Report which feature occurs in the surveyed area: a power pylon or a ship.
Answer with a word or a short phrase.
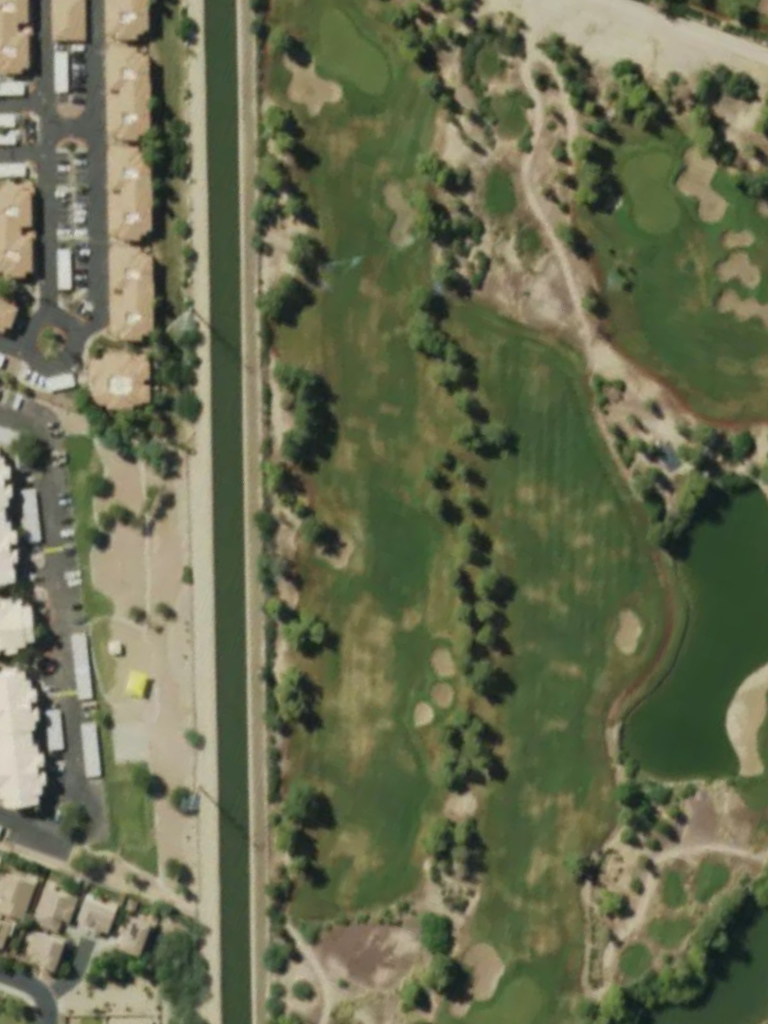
power pylon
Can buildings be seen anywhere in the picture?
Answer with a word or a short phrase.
Yes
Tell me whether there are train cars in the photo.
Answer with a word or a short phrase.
No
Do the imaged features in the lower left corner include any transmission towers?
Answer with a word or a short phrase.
Yes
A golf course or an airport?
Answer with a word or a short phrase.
golf course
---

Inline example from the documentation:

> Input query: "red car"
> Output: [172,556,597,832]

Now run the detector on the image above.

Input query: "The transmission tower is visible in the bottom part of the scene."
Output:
[162,785,201,809]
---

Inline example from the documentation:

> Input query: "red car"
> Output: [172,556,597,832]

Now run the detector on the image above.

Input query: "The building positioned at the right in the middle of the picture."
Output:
[661,443,681,472]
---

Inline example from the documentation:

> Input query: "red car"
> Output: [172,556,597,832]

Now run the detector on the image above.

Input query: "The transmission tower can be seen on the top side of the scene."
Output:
[153,308,192,329]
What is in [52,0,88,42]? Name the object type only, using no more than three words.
building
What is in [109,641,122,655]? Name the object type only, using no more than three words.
gazebo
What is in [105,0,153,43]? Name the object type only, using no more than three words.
building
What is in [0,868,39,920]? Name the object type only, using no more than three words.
house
